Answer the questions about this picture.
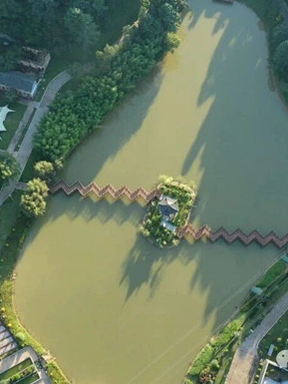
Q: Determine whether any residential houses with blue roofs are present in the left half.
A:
Yes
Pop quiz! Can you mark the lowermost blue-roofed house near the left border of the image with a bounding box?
[0,69,37,97]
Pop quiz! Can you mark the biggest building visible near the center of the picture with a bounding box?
[157,197,180,221]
